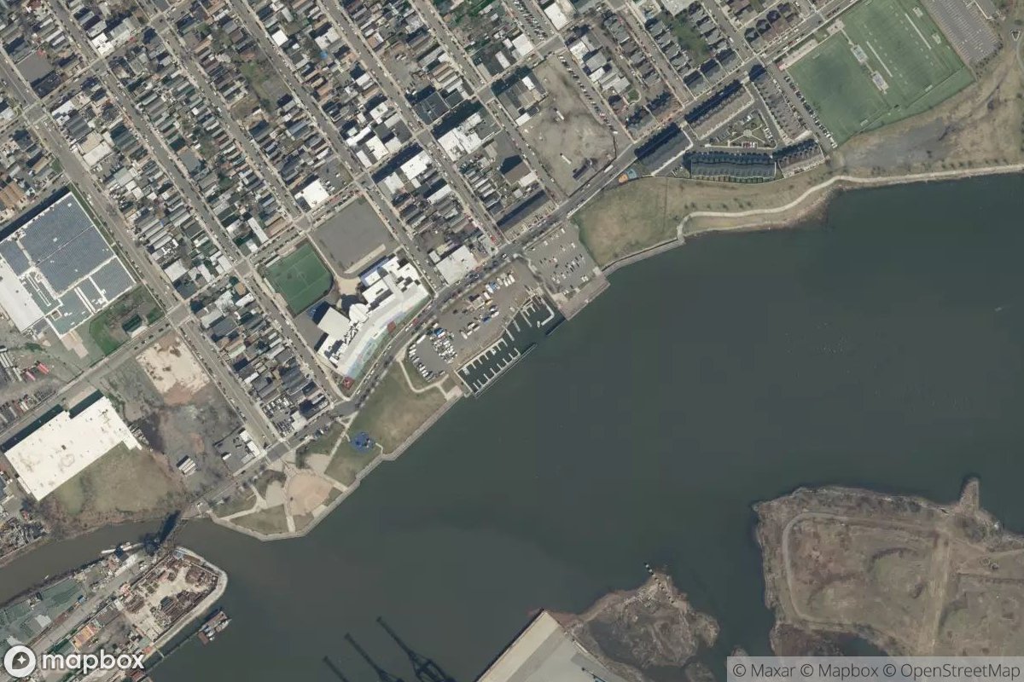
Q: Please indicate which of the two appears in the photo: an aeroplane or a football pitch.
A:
football pitch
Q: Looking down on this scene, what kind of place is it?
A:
residential area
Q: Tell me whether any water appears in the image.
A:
Yes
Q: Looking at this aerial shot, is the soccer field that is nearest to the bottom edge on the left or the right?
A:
left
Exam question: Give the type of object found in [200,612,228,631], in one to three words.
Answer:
ship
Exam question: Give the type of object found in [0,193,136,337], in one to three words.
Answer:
warehouse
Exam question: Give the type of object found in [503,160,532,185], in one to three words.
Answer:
building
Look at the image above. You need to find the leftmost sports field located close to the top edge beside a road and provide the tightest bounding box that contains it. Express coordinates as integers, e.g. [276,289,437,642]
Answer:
[787,22,893,142]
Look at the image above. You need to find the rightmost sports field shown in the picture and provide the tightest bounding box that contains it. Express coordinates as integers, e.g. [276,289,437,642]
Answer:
[854,0,974,121]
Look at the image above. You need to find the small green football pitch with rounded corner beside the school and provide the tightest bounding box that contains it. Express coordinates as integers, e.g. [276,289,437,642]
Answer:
[262,240,333,316]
